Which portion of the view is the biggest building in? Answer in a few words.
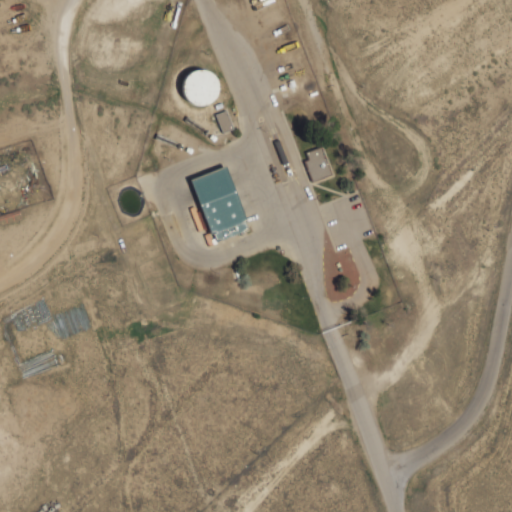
center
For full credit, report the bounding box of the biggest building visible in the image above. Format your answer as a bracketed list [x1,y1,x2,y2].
[191,166,246,238]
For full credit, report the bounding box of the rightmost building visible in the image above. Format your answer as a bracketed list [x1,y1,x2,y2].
[306,146,334,182]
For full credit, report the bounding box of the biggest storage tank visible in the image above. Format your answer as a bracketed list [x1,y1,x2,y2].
[183,68,221,107]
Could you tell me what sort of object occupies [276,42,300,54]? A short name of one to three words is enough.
vehicle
